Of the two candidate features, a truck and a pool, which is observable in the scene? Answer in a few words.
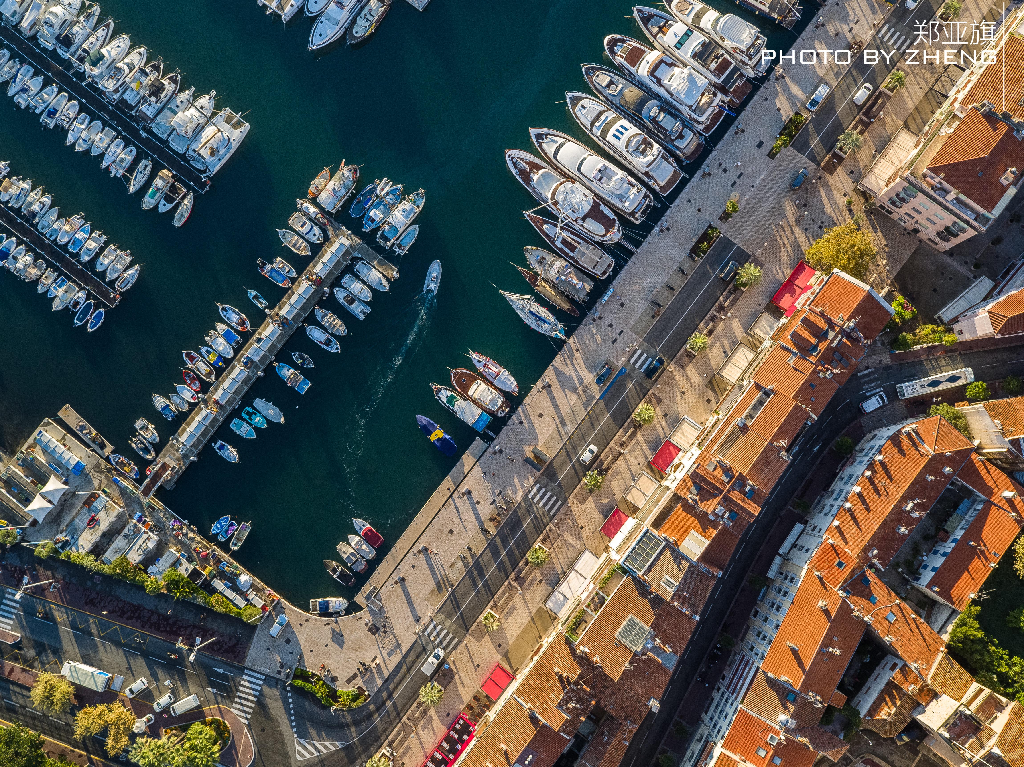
truck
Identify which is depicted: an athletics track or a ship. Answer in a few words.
ship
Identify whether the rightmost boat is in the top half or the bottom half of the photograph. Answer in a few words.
top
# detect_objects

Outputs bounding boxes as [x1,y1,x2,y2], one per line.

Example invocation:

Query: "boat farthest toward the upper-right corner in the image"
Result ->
[741,0,806,38]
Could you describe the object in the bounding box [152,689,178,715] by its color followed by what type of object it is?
white car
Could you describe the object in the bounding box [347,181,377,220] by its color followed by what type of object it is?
blue boat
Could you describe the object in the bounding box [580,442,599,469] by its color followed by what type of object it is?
white car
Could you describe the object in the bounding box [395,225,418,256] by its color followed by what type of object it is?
blue boat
